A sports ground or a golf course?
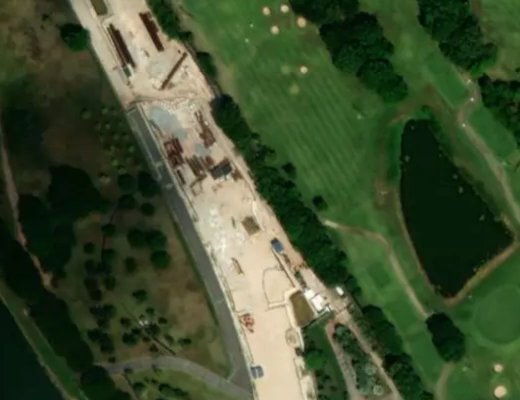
golf course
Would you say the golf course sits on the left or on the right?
right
